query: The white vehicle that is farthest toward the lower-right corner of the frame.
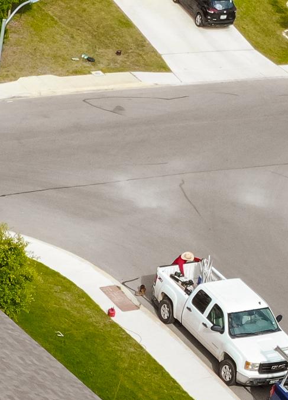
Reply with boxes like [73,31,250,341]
[152,265,288,392]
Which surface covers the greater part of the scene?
paved ground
